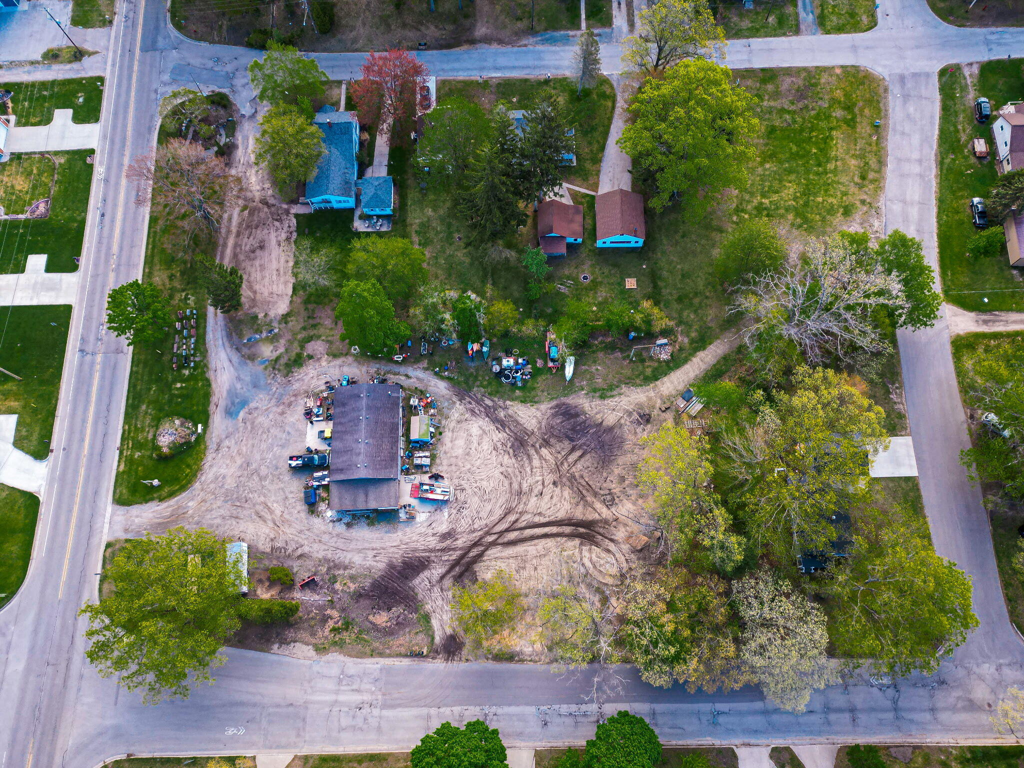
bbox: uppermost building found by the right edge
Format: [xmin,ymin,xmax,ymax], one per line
[989,104,1024,187]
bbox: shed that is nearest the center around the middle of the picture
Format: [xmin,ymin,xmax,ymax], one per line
[410,415,432,442]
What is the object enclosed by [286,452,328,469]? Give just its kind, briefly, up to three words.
vehicle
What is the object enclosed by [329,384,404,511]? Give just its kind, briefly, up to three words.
building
